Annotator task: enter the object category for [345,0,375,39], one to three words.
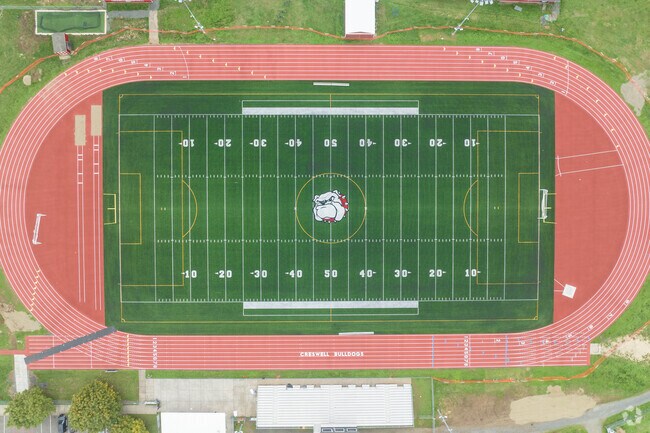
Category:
building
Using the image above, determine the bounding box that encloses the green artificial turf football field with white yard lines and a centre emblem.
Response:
[102,81,555,336]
